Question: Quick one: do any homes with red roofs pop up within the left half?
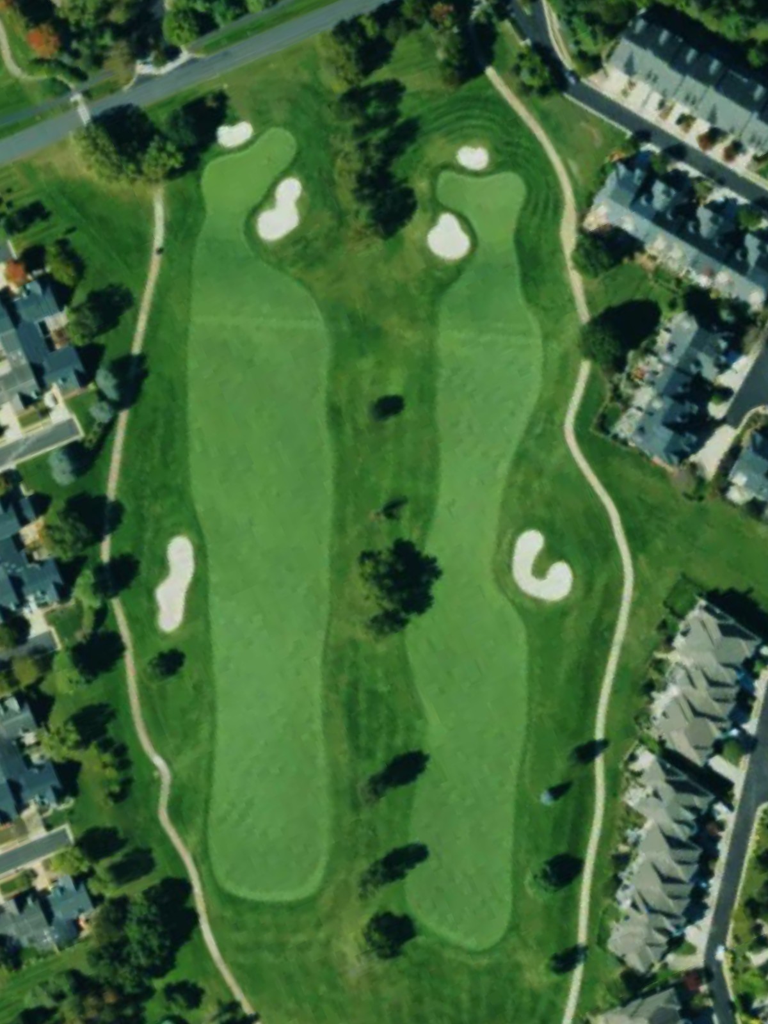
No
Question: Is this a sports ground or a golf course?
golf course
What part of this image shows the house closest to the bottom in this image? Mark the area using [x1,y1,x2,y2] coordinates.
[596,984,688,1024]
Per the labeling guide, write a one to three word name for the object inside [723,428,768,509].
house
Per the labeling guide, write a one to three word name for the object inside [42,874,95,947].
house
